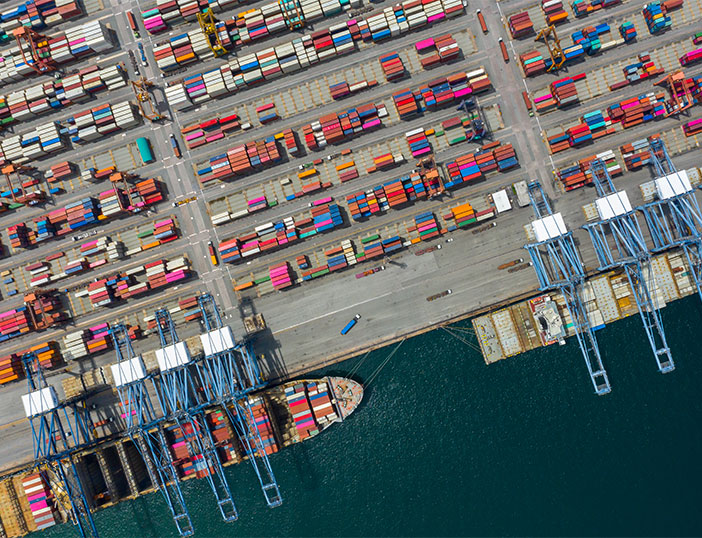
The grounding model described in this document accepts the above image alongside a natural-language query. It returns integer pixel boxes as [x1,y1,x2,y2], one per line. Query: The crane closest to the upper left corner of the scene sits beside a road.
[10,27,54,77]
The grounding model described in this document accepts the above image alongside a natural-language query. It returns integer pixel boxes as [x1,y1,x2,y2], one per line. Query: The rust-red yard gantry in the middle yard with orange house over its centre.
[414,153,446,199]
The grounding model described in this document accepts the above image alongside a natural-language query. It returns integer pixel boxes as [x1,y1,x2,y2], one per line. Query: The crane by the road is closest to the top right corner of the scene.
[653,68,694,117]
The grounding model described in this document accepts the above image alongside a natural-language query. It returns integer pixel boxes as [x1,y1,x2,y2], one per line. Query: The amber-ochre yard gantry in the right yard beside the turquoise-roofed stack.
[531,21,568,74]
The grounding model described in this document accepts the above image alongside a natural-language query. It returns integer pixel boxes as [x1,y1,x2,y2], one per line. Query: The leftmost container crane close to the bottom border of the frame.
[21,353,105,538]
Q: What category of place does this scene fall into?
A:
port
